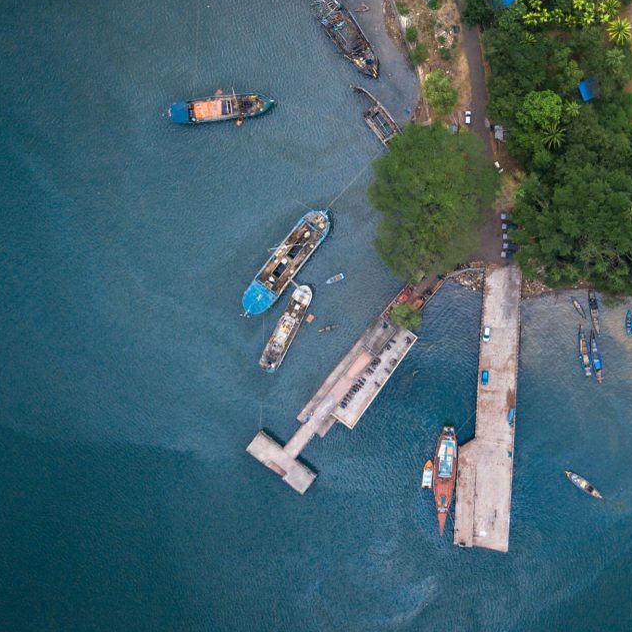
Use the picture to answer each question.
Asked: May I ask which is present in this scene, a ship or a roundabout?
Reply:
ship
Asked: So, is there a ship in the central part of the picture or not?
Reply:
Yes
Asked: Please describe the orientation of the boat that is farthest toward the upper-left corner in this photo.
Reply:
horizontally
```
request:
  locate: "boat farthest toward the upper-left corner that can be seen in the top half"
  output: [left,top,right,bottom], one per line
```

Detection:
[168,86,276,122]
